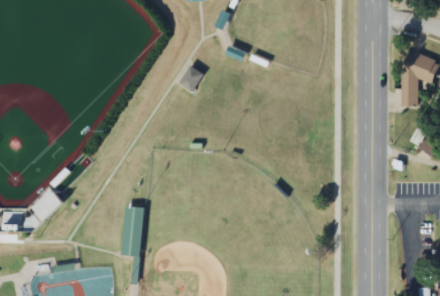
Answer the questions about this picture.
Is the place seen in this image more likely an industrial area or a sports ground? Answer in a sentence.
What you see here is a sports ground.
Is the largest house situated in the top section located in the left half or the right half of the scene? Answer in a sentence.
The largest house situated in the top section appears in the right half of the scene.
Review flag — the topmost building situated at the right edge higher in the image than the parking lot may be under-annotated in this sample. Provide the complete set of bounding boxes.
[402,58,440,106]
